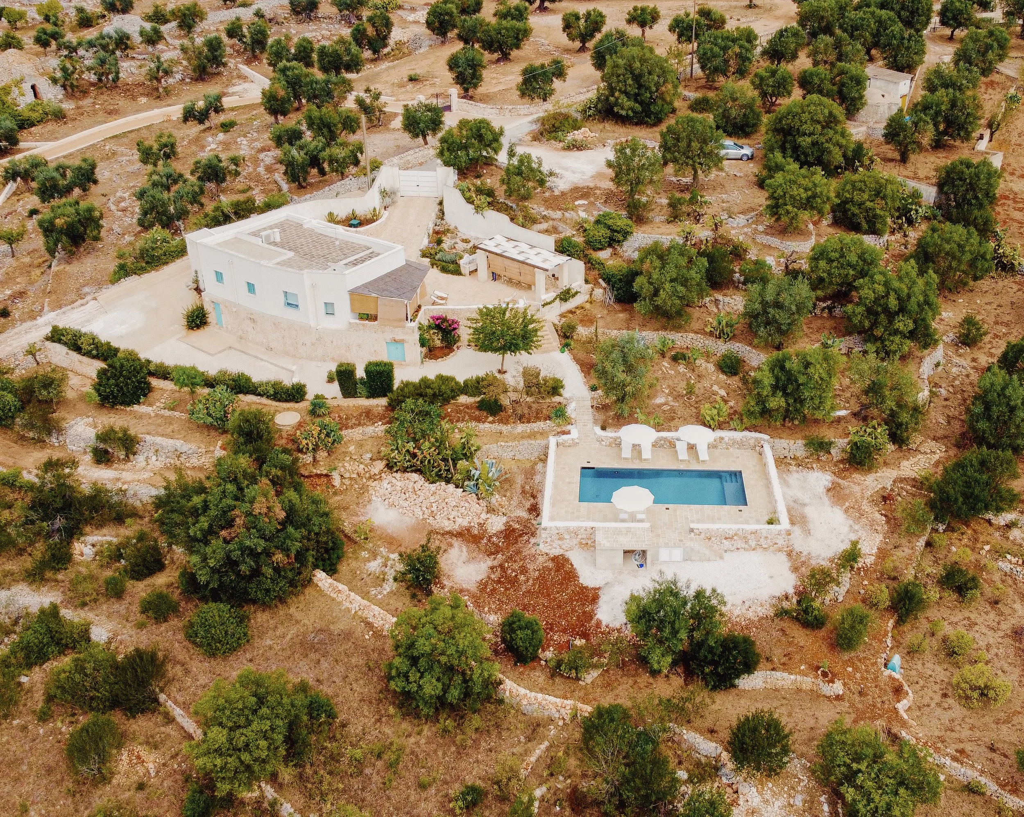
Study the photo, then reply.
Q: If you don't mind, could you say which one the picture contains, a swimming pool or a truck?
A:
swimming pool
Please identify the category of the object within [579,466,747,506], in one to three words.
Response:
swimming pool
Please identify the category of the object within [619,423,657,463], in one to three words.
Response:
umbrella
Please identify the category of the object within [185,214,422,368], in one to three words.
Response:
house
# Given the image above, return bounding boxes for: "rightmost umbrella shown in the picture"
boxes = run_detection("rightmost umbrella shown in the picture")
[677,424,716,464]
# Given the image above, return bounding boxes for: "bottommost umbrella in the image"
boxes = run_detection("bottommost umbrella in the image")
[611,477,658,523]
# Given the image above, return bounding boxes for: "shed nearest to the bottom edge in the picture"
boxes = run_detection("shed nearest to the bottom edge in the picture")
[595,539,652,569]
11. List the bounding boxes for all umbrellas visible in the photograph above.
[619,423,657,463]
[677,424,716,464]
[611,477,658,523]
